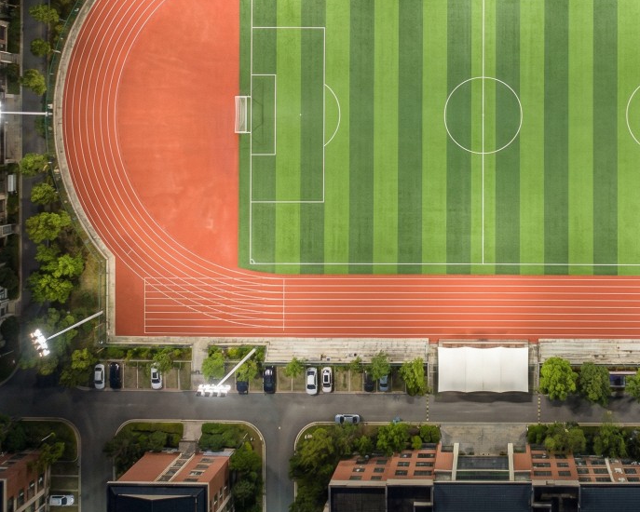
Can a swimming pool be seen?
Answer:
No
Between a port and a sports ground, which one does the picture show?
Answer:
sports ground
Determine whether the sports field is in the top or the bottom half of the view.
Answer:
top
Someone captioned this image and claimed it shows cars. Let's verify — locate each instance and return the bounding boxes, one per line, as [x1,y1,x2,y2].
[364,369,375,394]
[335,413,360,424]
[151,365,163,390]
[379,371,389,393]
[237,378,248,392]
[51,493,74,507]
[322,368,332,392]
[93,364,106,388]
[306,368,318,394]
[109,362,122,388]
